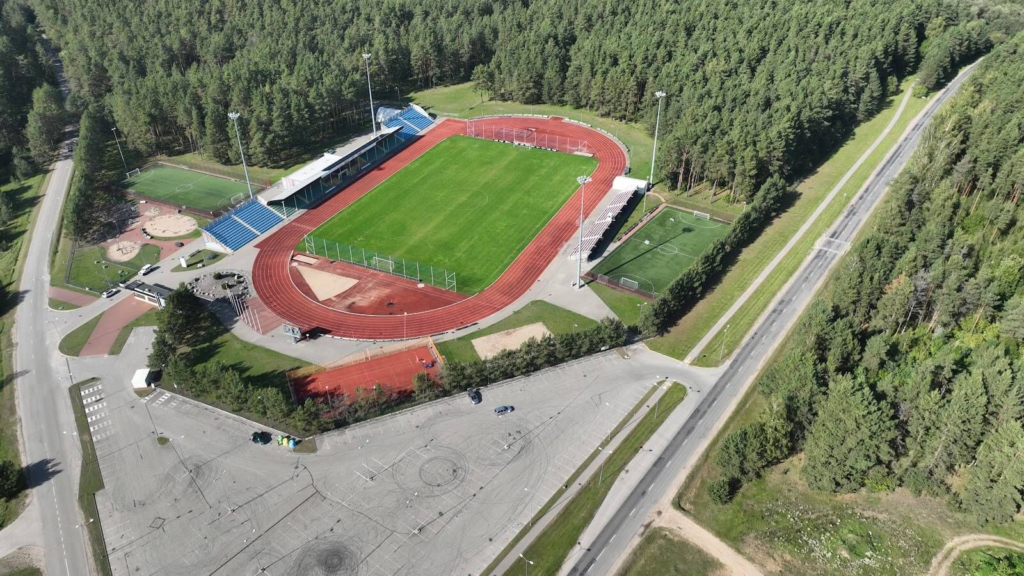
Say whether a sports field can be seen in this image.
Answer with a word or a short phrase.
Yes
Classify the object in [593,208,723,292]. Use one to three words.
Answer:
sports field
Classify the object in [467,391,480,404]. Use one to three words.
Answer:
vehicle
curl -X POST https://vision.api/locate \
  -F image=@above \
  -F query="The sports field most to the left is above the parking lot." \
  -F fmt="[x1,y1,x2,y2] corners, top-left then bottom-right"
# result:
[114,163,256,210]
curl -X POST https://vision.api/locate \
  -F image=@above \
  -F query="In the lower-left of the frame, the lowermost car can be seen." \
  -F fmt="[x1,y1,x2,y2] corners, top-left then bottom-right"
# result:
[248,431,268,445]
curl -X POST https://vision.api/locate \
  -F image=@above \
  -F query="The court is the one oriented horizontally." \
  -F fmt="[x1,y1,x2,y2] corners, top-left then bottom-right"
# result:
[288,344,435,411]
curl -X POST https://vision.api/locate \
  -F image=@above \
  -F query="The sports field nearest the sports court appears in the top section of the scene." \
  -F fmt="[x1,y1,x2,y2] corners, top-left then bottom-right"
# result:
[293,133,600,297]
